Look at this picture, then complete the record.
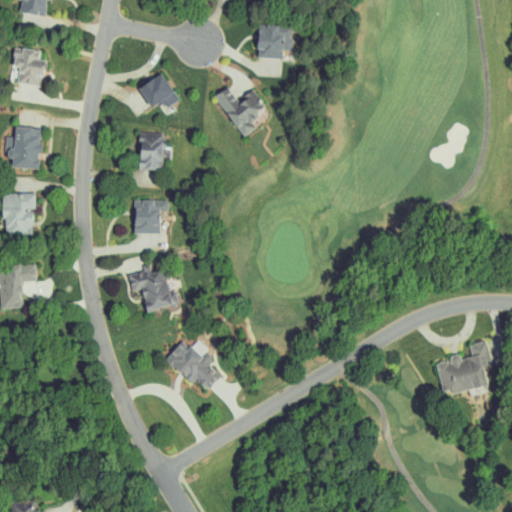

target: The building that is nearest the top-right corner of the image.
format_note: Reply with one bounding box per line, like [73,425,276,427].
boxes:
[258,24,295,63]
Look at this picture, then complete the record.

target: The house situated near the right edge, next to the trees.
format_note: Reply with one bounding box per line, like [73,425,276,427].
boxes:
[438,341,493,395]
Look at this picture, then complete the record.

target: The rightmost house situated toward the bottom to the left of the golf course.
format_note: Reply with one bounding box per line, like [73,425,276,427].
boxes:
[167,340,221,389]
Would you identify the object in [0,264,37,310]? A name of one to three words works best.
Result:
house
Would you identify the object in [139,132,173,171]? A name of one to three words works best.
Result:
house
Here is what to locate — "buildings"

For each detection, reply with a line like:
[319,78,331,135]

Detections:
[167,340,221,389]
[129,265,182,313]
[6,126,42,168]
[438,341,493,395]
[258,24,295,63]
[2,193,36,234]
[0,264,37,310]
[138,72,180,112]
[134,200,175,234]
[216,87,270,136]
[10,48,47,84]
[12,502,40,512]
[139,132,173,171]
